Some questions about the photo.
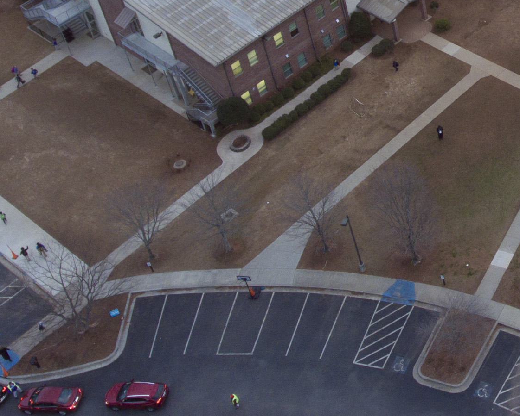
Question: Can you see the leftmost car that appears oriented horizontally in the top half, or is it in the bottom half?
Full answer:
The leftmost car that appears oriented horizontally sits in the bottom half of the picture.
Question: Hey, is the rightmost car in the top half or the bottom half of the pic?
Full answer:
It is in the bottom half that the rightmost car appears.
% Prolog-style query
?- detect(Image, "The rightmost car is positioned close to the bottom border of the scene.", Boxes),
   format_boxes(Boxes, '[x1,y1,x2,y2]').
[102,379,172,413]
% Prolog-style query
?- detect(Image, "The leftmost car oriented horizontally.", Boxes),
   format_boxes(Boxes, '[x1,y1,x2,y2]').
[15,383,86,416]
